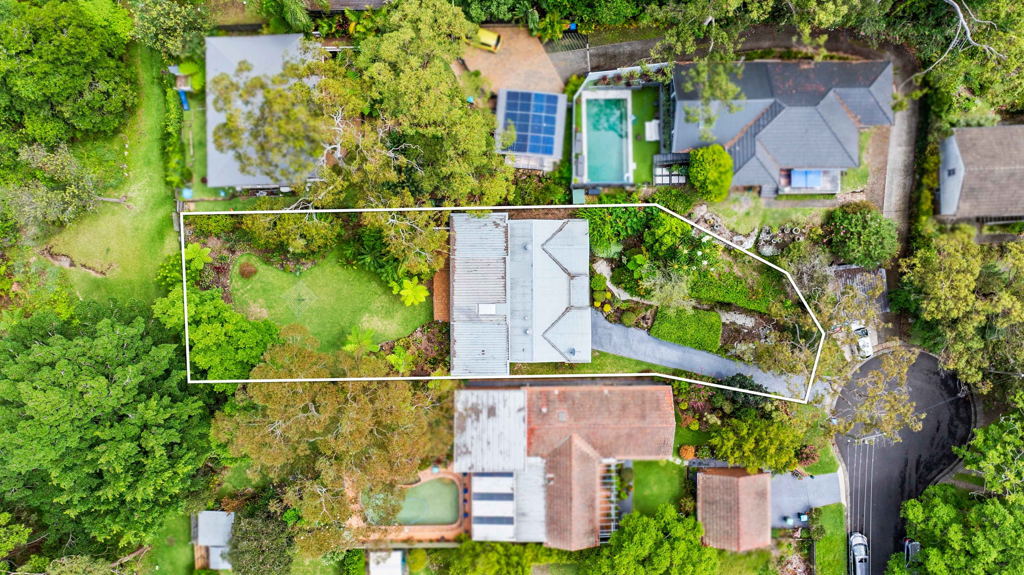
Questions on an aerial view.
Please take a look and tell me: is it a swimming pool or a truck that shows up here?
swimming pool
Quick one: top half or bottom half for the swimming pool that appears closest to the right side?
top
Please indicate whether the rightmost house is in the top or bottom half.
top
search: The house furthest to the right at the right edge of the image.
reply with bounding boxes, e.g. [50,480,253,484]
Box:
[936,126,1024,221]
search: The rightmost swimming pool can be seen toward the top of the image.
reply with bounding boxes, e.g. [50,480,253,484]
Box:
[584,96,635,184]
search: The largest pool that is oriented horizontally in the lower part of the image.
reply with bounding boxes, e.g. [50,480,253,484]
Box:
[358,476,461,528]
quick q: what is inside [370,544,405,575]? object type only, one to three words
shed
